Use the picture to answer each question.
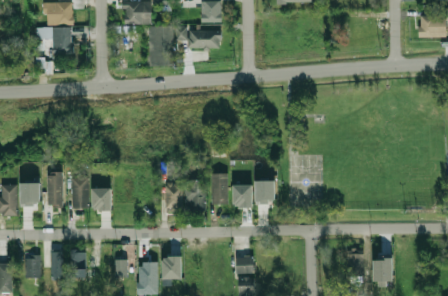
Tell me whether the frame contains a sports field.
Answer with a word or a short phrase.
Yes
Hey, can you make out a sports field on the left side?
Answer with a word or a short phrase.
No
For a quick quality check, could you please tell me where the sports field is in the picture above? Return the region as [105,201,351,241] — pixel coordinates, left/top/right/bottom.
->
[325,88,444,205]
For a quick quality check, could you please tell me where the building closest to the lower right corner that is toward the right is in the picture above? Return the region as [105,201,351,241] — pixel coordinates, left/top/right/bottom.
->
[374,259,394,288]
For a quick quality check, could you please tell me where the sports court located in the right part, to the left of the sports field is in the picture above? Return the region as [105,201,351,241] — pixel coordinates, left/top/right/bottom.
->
[290,154,323,207]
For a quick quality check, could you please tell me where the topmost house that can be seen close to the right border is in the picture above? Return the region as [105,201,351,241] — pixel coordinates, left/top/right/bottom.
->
[419,16,447,38]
